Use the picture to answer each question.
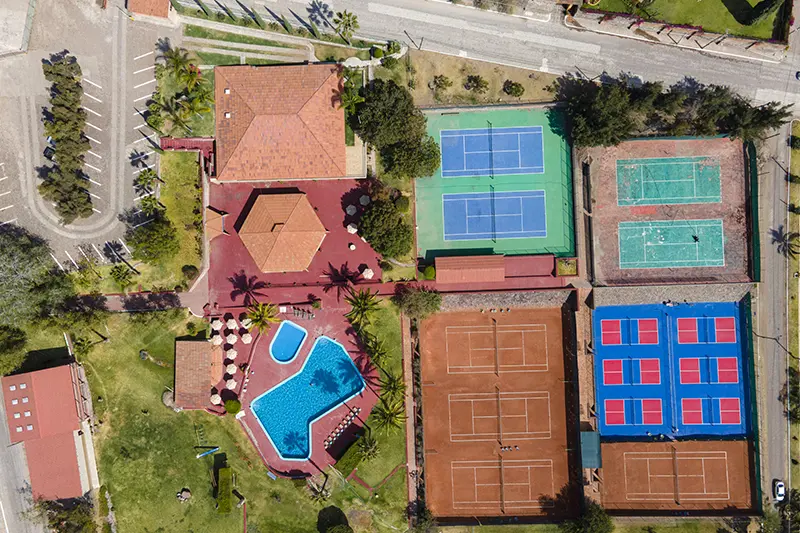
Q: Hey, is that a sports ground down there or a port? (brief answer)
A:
sports ground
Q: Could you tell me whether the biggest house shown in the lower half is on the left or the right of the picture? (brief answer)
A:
left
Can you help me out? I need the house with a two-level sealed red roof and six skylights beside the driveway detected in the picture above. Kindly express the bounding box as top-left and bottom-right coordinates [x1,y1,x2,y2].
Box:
[2,363,105,503]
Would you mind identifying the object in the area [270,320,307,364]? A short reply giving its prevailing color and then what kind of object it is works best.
blue swimming pool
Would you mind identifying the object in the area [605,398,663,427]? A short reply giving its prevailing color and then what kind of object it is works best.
red sports court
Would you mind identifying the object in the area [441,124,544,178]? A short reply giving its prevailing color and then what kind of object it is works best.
blue tennis court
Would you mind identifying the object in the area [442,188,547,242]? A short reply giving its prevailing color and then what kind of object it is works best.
blue tennis court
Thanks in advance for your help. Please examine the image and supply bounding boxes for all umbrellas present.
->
[212,320,223,330]
[347,205,356,216]
[363,268,373,279]
[348,222,357,233]
[212,334,223,345]
[227,318,238,329]
[227,379,237,389]
[360,195,370,206]
[227,334,238,344]
[227,363,238,374]
[211,393,222,403]
[227,349,238,359]
[242,333,252,344]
